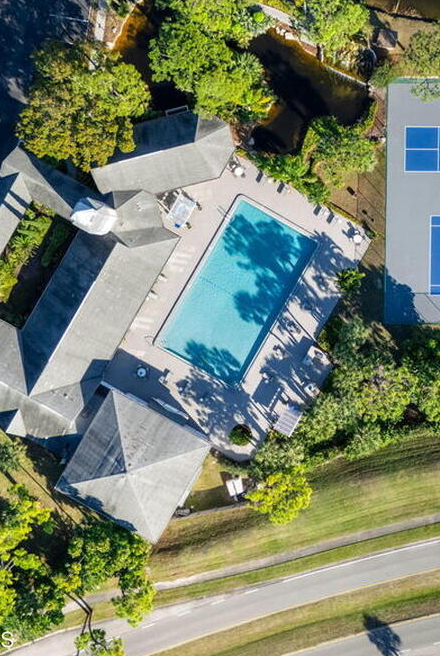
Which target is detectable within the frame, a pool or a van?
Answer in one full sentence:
The one in the frame is a pool.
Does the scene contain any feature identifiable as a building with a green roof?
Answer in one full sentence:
No, no building with a green roof is visible in the view.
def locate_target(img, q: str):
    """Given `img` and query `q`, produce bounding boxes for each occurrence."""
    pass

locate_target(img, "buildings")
[55,384,213,543]
[0,112,234,438]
